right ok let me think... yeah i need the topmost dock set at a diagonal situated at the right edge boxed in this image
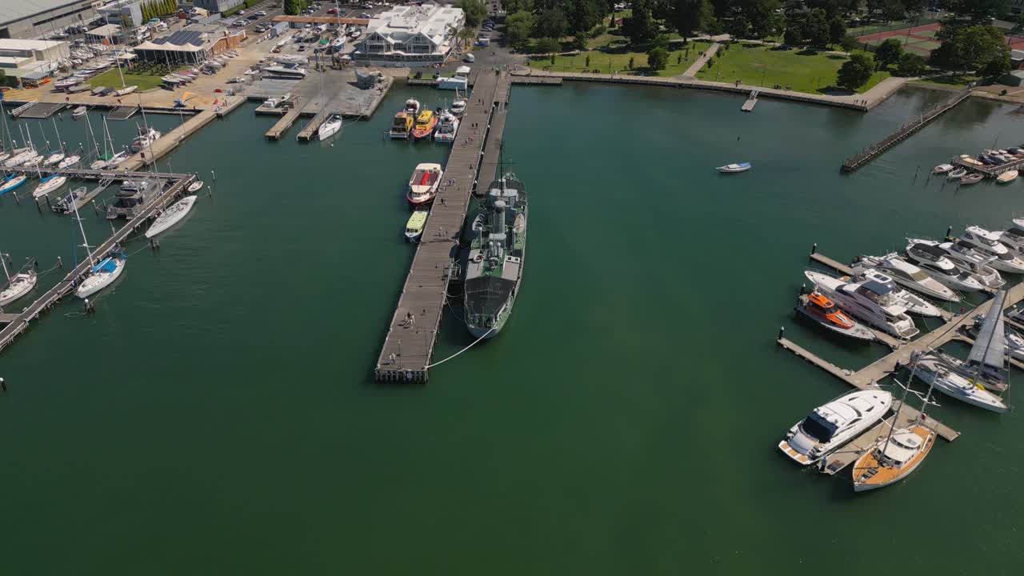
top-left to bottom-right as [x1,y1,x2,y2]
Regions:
[842,87,973,172]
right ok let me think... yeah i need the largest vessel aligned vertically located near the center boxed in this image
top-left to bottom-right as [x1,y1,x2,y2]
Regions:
[460,136,529,345]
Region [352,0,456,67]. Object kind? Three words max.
building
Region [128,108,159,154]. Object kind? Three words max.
boat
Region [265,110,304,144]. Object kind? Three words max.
pier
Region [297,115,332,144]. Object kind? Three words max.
pier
